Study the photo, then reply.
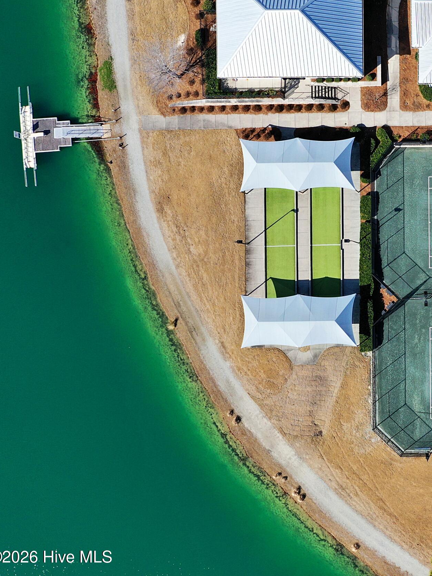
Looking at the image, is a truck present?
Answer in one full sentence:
No, there isn't any truck down there.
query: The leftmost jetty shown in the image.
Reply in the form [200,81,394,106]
[32,117,74,153]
